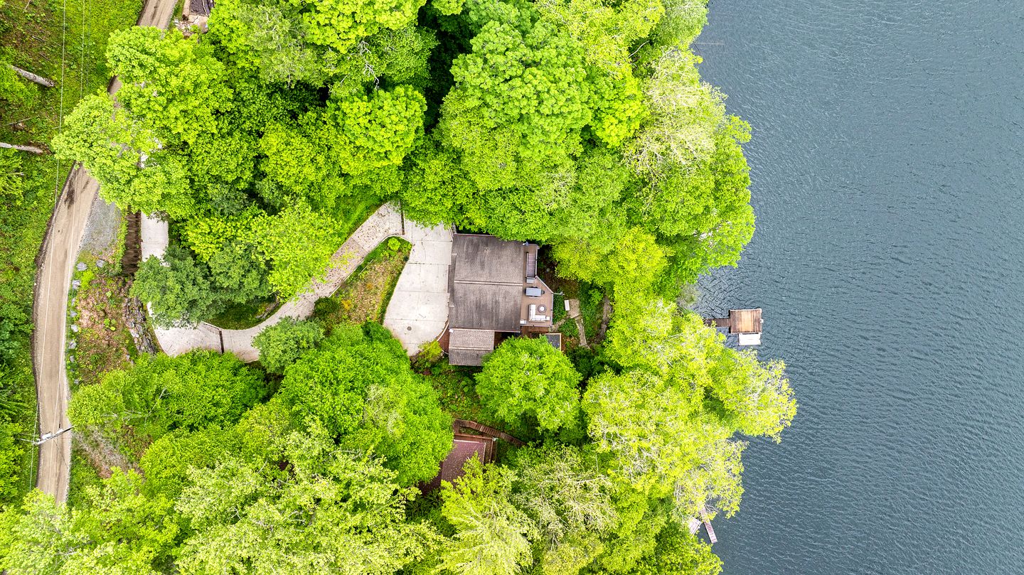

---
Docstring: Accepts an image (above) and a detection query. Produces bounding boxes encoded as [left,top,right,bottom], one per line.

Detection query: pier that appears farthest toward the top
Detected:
[700,308,764,334]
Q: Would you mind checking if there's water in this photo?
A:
Yes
